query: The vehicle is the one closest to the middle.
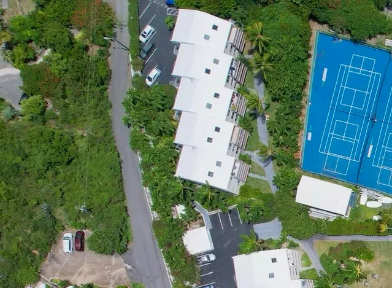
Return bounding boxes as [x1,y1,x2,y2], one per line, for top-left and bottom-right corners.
[146,68,161,85]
